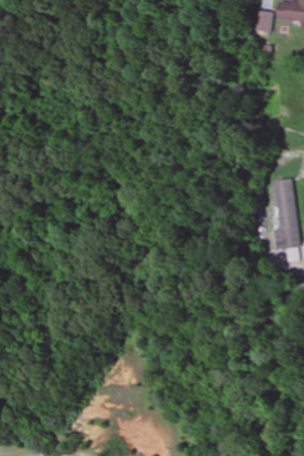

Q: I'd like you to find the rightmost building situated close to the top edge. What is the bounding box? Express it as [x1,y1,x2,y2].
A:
[275,0,304,24]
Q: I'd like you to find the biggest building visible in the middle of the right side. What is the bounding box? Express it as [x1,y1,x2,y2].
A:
[272,178,298,246]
